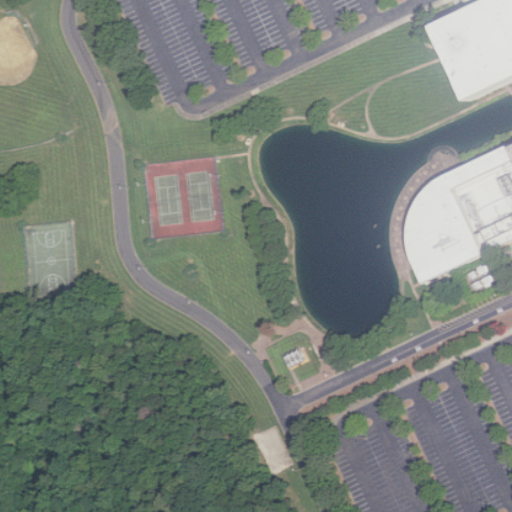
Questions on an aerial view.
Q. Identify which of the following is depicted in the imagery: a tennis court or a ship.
tennis court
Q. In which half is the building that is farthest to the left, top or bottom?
bottom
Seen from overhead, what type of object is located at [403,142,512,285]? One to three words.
building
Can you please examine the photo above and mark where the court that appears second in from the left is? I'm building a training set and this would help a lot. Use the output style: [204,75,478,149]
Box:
[146,162,188,238]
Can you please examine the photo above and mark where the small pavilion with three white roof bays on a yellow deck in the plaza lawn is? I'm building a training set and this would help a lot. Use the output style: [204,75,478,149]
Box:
[283,347,310,372]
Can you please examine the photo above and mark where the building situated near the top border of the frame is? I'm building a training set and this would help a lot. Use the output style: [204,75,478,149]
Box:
[424,0,512,105]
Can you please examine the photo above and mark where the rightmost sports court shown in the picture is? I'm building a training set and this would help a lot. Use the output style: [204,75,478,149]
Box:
[253,426,294,474]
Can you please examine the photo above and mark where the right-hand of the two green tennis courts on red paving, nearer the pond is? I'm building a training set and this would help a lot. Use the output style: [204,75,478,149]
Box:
[182,158,223,234]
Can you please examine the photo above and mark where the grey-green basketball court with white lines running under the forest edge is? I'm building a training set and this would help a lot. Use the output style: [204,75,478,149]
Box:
[24,220,78,300]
